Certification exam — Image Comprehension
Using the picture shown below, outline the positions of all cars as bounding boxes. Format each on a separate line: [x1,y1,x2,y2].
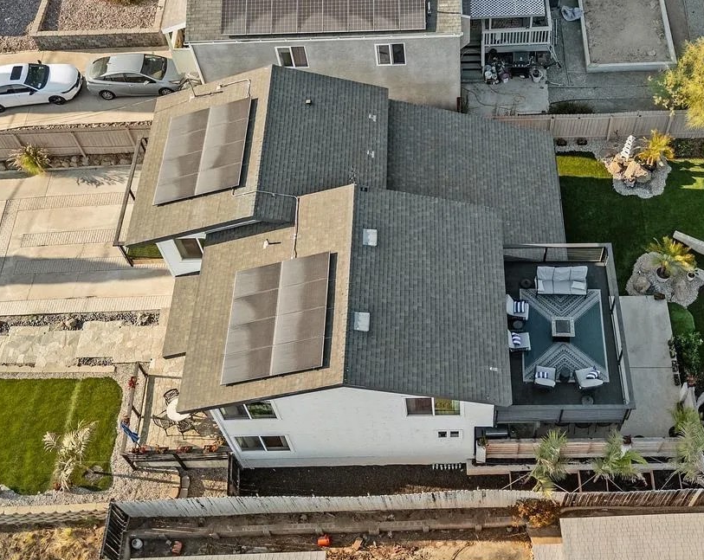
[82,50,188,101]
[0,59,82,113]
